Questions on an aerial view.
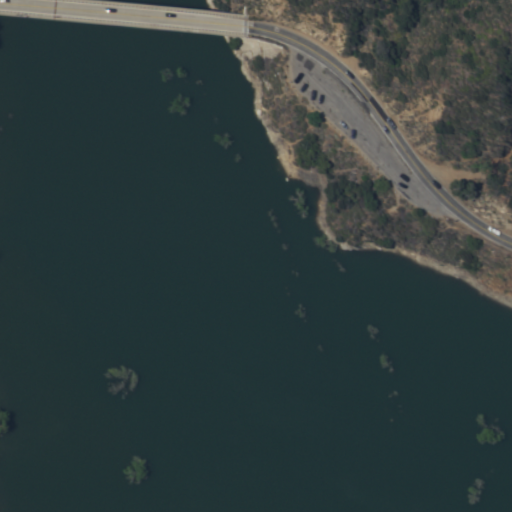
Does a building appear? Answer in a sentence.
No, there is no building in the image.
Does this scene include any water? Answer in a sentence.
Yes, the picture does contain water.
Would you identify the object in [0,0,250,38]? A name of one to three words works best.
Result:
bridge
